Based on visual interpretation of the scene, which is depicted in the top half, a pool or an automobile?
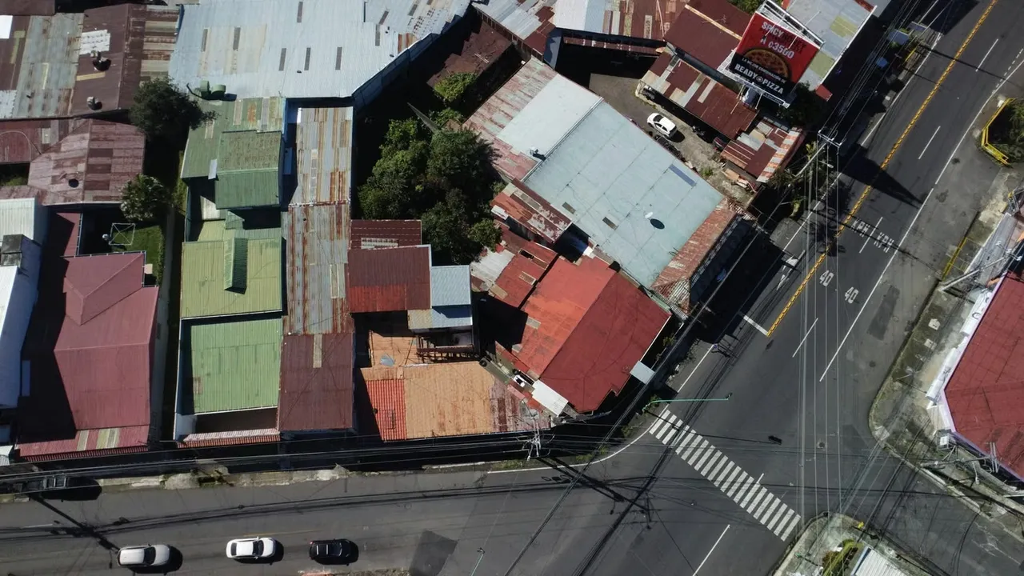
automobile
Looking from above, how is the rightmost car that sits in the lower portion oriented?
from left to right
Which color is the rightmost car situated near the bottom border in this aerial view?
black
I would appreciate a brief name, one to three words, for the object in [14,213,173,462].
house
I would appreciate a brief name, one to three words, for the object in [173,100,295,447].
house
